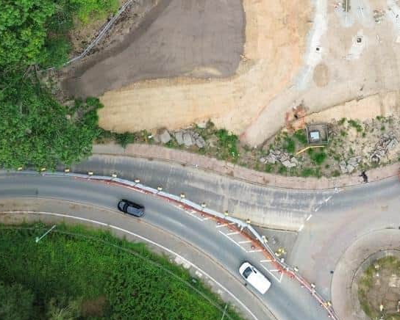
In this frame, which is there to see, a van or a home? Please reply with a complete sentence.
There is a van in the scene.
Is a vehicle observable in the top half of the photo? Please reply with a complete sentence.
No, in the top half of the photo there is no vehicle.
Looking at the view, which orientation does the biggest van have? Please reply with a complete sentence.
In this picture, the biggest van is oriented diagonally.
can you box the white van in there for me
[238,263,272,299]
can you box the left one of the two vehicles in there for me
[115,200,145,219]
